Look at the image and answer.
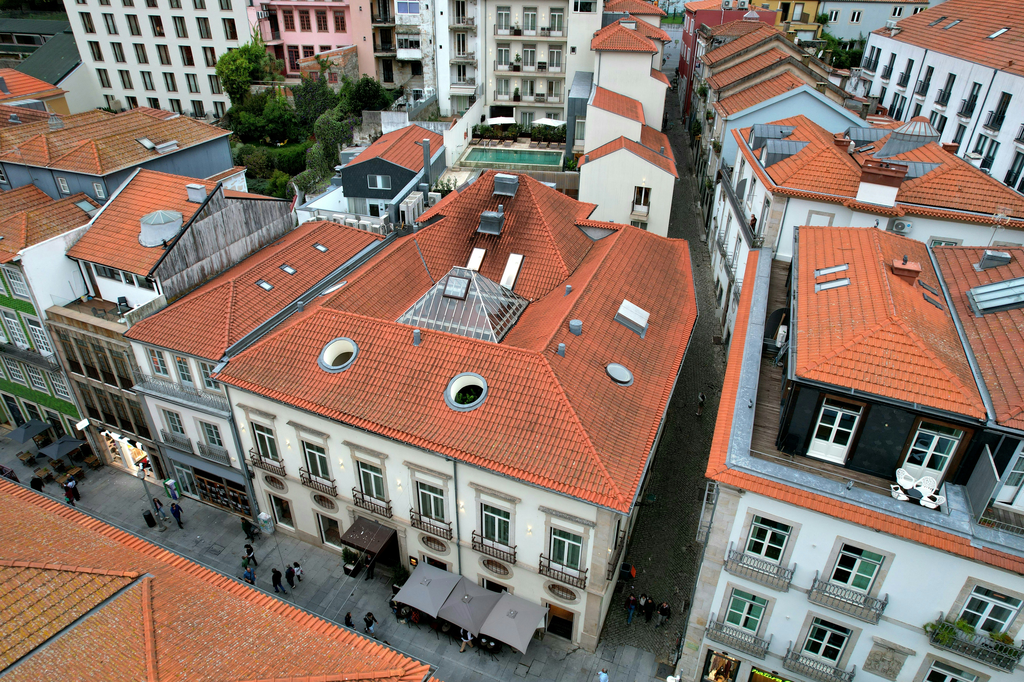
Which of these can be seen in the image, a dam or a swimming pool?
swimming pool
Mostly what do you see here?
buildings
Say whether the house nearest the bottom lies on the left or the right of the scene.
left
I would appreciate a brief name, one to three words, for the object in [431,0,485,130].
house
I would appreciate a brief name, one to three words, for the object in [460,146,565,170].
swimming pool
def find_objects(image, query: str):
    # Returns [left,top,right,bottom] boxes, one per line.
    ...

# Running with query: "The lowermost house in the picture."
[0,473,437,682]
